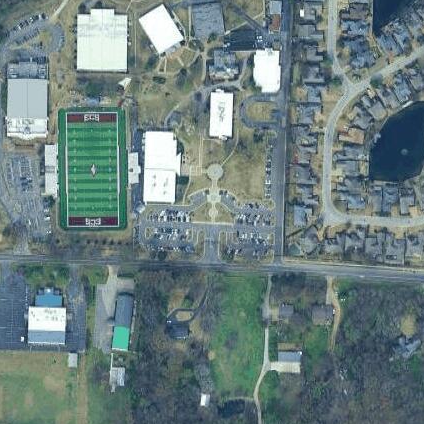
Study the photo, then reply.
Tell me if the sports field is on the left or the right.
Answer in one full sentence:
The sports field appears in the left half of the scene.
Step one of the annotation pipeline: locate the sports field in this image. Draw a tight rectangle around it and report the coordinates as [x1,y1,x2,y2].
[59,107,126,231]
